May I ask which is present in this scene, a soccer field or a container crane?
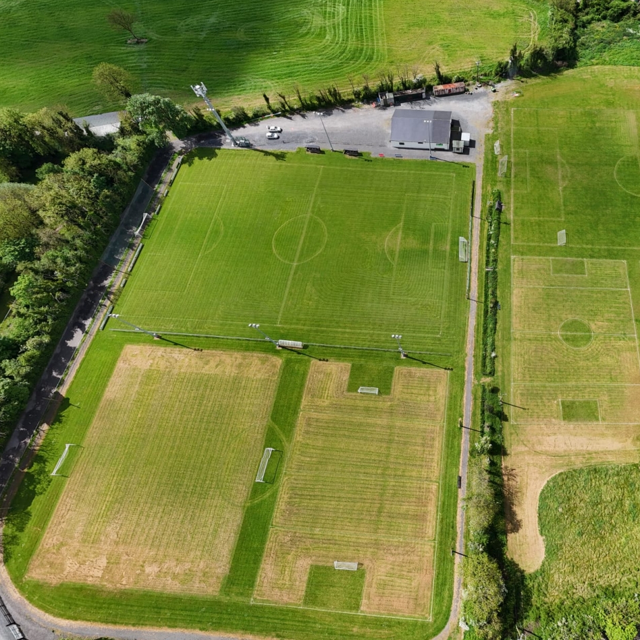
soccer field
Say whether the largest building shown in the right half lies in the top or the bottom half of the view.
top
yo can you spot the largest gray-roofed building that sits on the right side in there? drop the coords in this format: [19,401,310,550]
[390,104,452,149]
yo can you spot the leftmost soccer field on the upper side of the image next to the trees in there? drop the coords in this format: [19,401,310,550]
[114,156,458,339]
